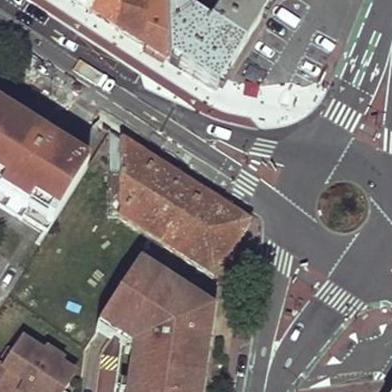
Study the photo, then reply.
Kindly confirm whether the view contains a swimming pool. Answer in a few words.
No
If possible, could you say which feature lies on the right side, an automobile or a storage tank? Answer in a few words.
automobile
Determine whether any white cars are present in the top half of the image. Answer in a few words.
Yes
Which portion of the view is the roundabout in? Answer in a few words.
right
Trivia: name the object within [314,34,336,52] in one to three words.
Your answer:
car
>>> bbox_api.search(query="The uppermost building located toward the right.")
[210,0,268,33]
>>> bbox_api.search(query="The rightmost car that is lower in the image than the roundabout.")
[288,321,302,342]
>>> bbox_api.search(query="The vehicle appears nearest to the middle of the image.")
[206,125,232,140]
